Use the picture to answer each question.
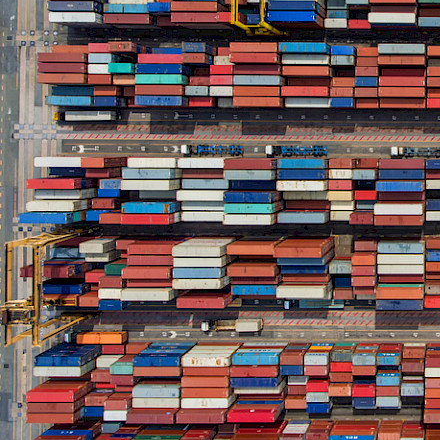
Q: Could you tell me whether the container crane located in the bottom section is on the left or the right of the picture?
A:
left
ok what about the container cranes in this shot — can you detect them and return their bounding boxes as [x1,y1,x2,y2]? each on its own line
[0,224,98,341]
[232,0,290,38]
